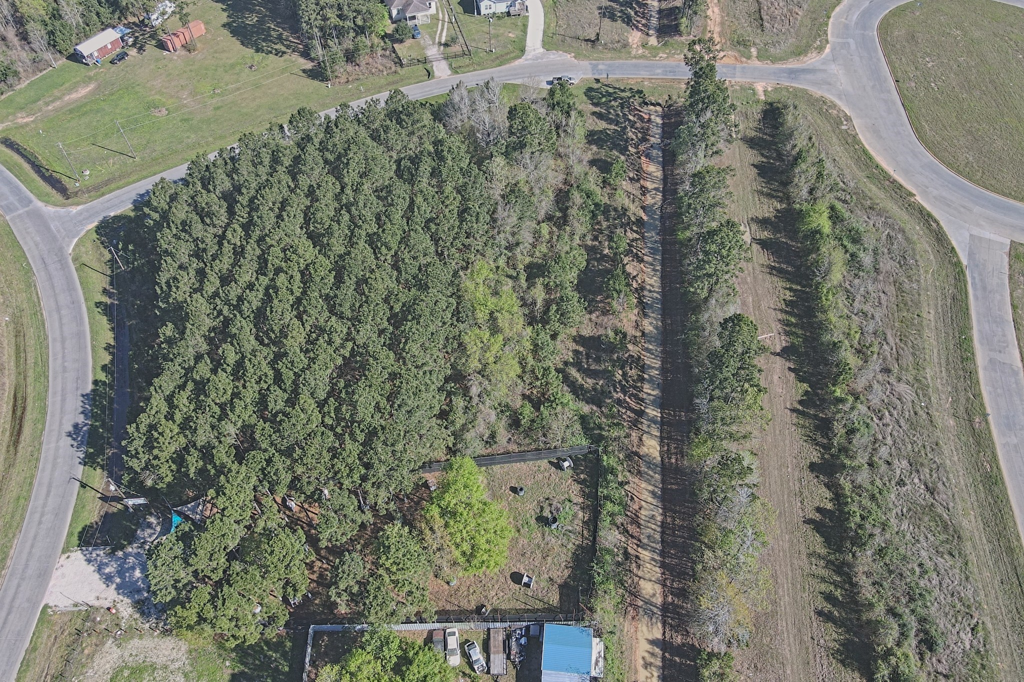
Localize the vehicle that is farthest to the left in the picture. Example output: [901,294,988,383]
[109,50,129,64]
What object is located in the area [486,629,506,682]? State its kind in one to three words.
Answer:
trailer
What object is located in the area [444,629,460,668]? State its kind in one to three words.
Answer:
car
